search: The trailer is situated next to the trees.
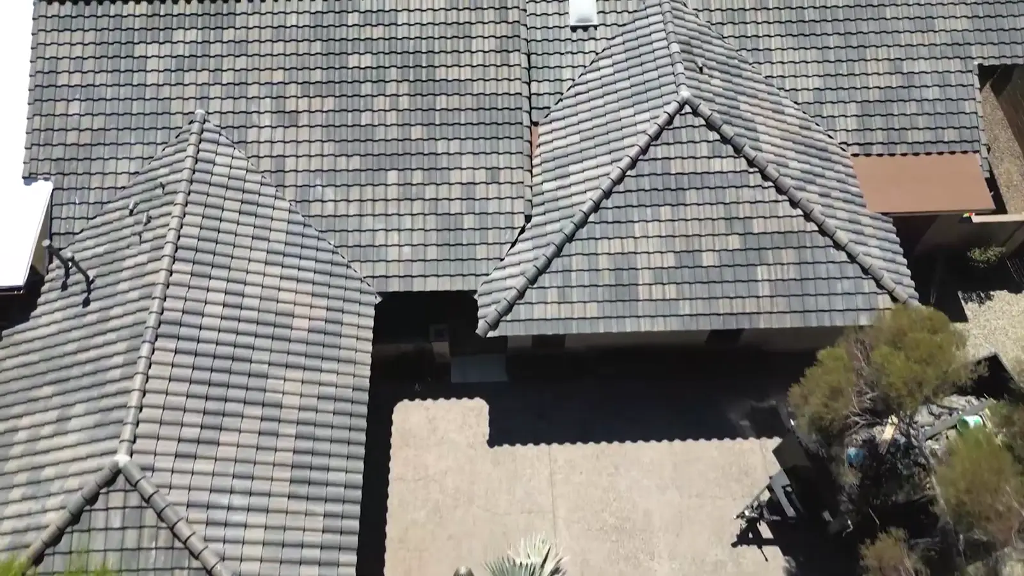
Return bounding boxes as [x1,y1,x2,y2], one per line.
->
[732,424,865,524]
